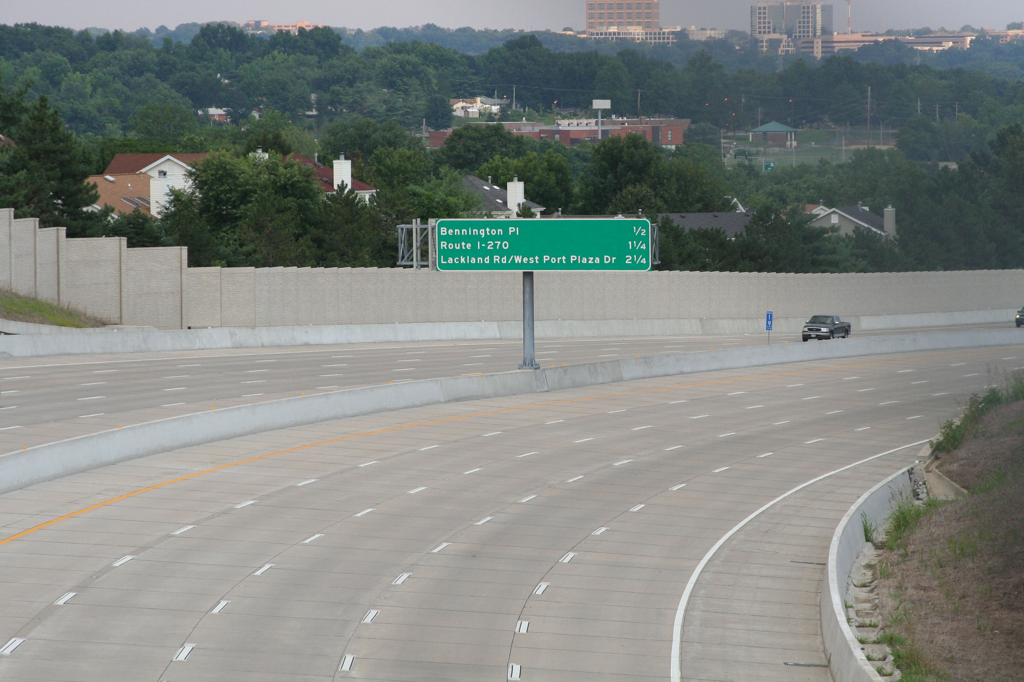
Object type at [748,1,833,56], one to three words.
building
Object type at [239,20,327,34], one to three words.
building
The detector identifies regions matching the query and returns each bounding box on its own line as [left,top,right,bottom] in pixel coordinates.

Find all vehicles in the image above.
[797,313,851,342]
[1016,311,1024,327]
